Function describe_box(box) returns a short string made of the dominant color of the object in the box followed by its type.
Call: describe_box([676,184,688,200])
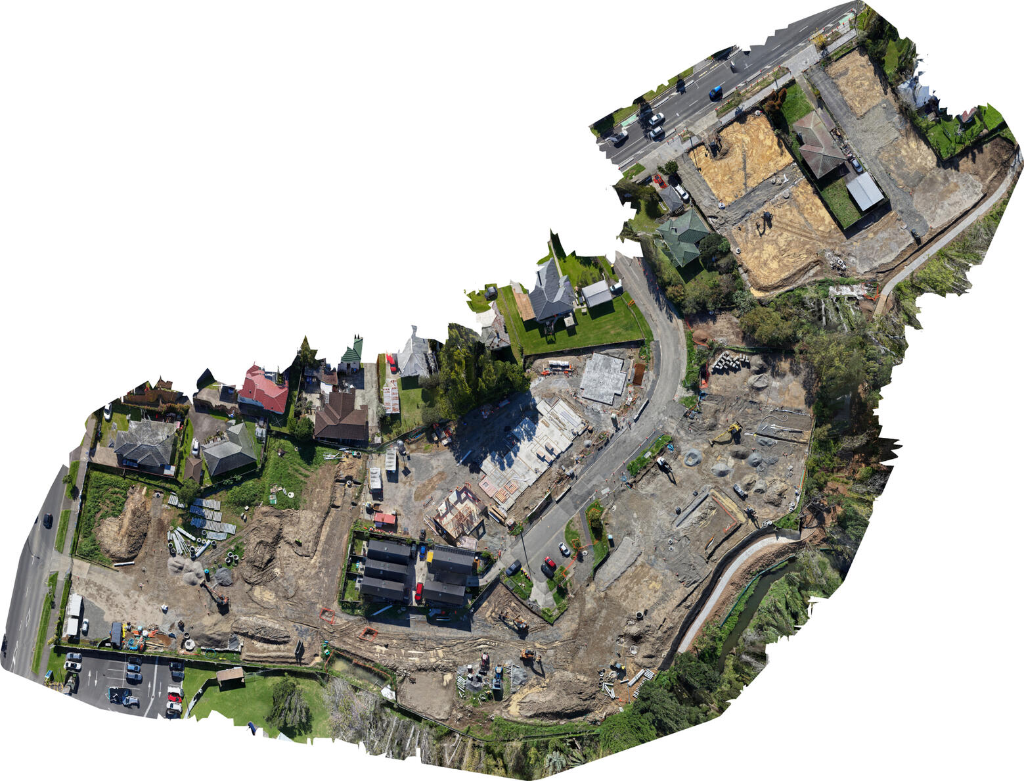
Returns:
white vehicle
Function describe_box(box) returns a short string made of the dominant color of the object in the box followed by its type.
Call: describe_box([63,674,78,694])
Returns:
gray vehicle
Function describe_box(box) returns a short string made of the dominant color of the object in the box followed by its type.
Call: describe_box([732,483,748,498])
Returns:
gray vehicle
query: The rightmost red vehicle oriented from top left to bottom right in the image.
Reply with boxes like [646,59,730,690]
[653,173,666,189]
